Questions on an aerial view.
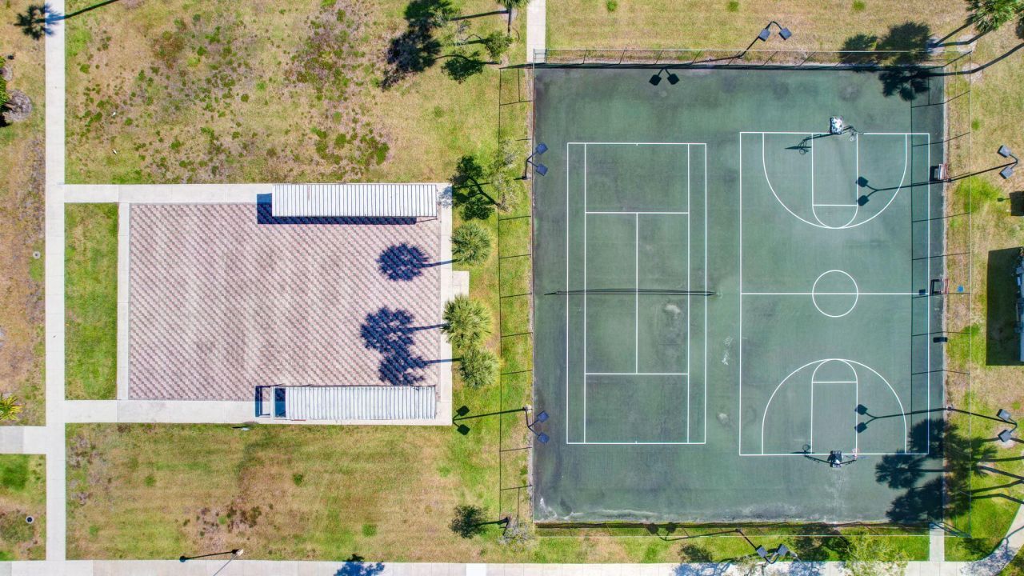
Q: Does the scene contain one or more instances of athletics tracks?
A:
No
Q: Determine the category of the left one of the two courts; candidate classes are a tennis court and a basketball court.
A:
tennis court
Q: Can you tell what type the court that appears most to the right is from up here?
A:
basketball court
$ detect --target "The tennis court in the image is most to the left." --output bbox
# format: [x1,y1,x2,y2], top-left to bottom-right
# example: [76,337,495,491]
[534,64,723,522]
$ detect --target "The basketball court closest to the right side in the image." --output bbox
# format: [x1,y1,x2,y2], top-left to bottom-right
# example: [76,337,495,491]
[723,64,947,522]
